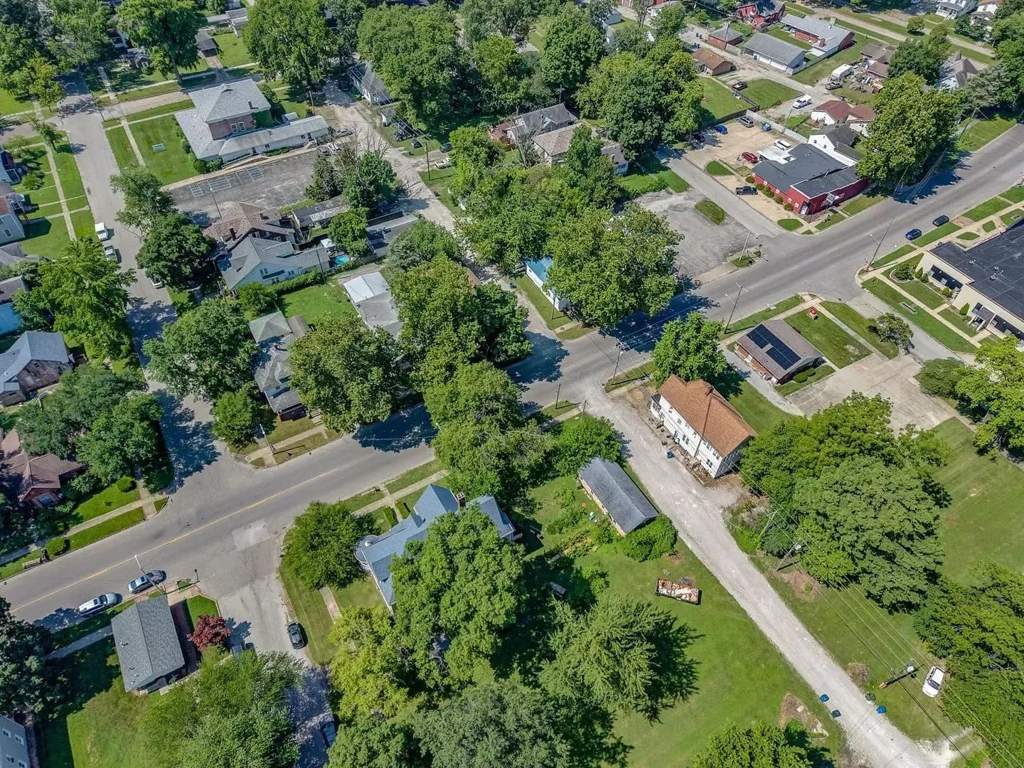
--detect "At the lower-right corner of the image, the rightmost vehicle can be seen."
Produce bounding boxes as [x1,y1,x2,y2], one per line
[917,660,949,699]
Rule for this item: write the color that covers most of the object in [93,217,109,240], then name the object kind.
white vehicle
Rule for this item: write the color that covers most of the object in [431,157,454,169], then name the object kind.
white vehicle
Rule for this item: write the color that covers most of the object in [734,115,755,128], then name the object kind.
gray vehicle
